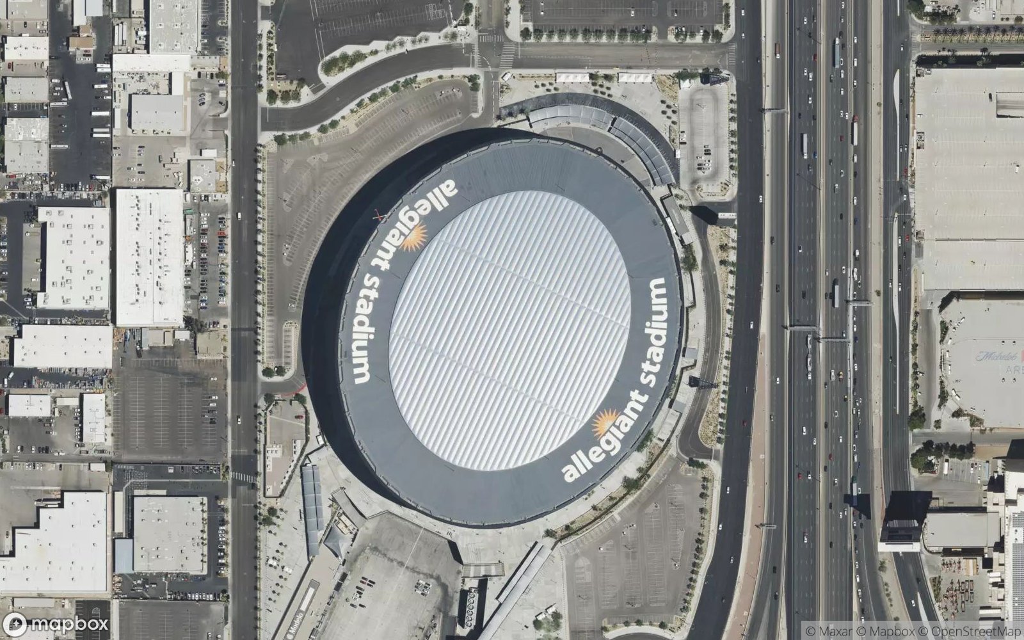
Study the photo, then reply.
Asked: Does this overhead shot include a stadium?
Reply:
Yes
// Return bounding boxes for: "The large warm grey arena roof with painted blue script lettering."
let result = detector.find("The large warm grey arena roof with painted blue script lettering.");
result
[942,301,1024,428]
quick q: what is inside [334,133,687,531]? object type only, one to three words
stadium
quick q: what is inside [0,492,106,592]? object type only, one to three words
building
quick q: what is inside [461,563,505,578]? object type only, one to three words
bridge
